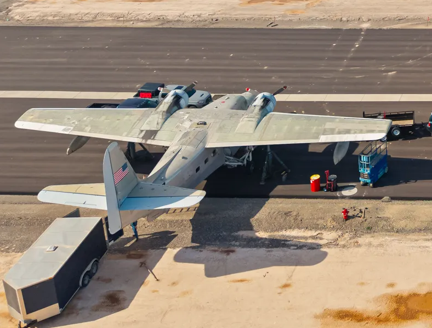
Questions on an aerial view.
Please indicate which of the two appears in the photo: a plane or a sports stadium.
plane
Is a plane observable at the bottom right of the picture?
No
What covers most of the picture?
paved ground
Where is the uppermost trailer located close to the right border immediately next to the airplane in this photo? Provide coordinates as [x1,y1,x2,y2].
[362,106,429,135]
